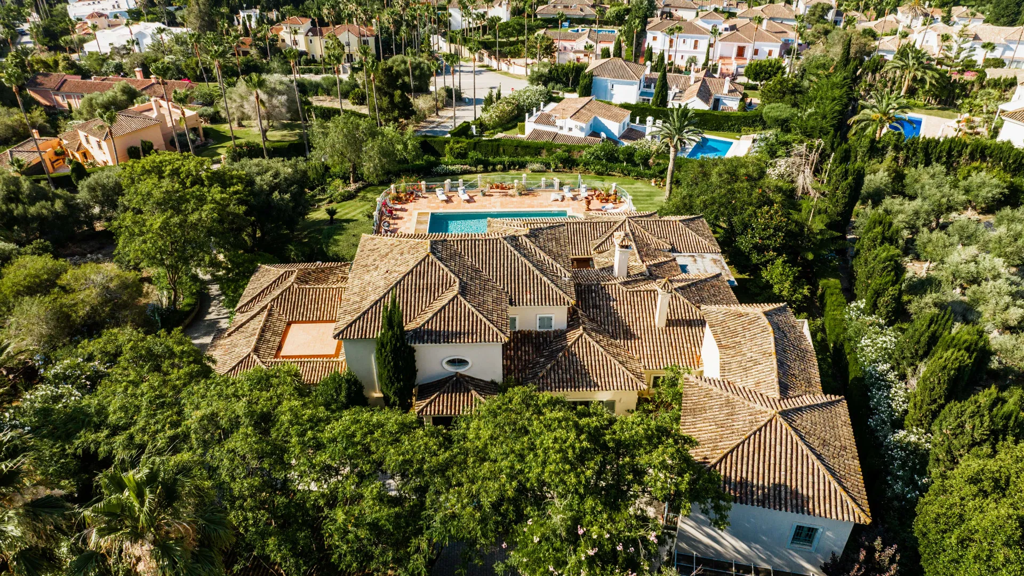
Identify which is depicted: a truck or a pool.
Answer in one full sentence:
Of the two, only a pool appears.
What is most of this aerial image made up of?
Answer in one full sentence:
For the most part, this view shows trees.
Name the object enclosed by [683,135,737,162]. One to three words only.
swimming pool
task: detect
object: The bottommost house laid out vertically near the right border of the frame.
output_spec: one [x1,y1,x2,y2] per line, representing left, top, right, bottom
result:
[991,81,1024,153]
